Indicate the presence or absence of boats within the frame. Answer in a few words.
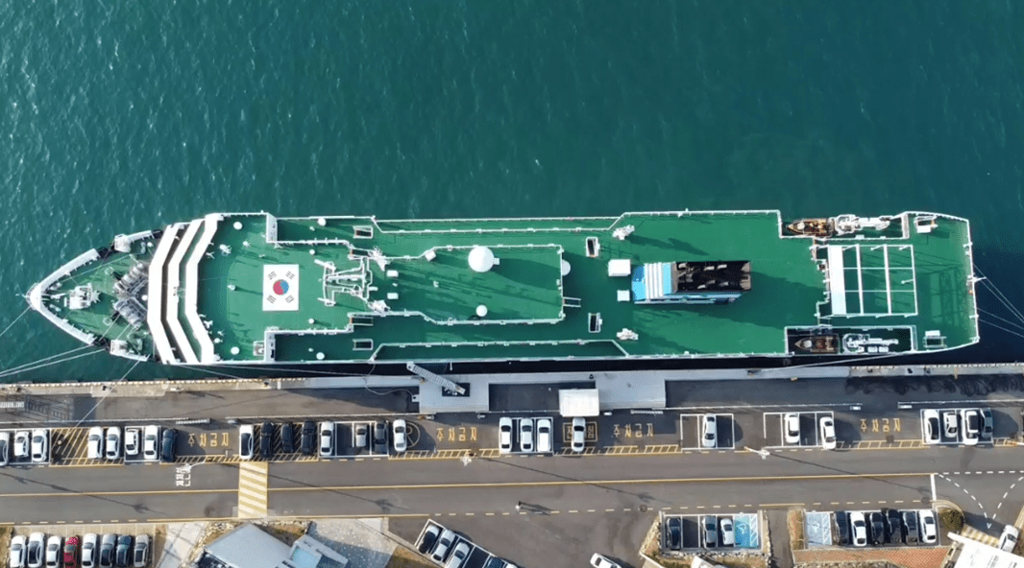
Yes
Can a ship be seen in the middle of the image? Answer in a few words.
Yes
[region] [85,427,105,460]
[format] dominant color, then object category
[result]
white car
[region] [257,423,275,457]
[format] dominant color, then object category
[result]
black car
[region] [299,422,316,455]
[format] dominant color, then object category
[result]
black car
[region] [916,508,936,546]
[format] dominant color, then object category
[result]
white car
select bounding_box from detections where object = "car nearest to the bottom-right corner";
[992,523,1015,555]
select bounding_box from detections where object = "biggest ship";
[12,209,988,367]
